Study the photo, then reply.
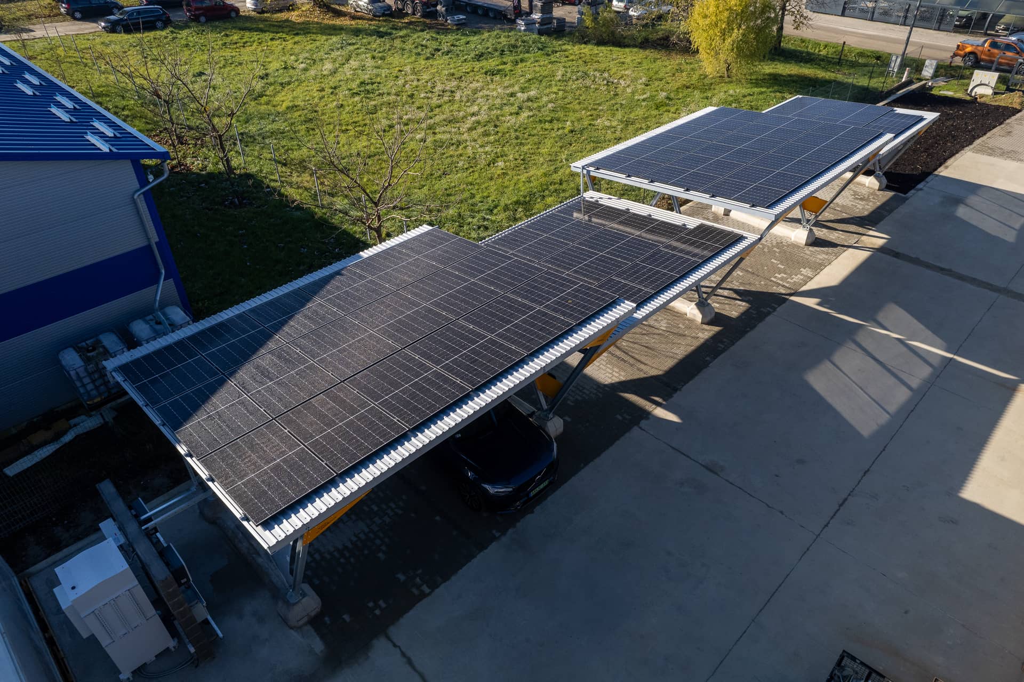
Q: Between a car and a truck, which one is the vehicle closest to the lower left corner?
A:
car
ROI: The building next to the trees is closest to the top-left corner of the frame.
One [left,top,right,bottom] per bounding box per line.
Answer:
[0,45,197,422]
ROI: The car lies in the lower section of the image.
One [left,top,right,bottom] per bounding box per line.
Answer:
[427,392,563,509]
